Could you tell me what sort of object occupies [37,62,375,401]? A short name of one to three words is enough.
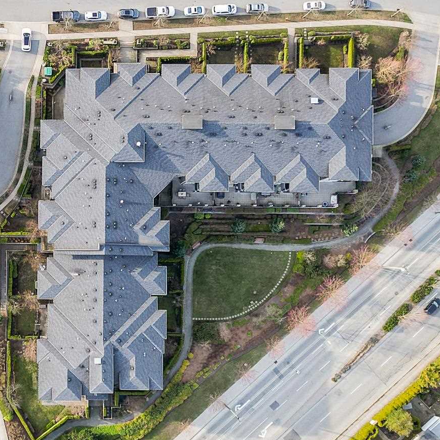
building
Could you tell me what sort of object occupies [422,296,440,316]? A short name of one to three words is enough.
car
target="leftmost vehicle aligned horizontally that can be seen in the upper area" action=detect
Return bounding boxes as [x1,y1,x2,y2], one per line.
[51,10,80,23]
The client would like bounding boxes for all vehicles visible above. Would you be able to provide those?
[51,10,80,23]
[145,5,175,18]
[302,0,325,11]
[246,1,269,13]
[84,10,107,21]
[118,7,139,19]
[183,5,205,17]
[348,0,371,10]
[212,5,237,15]
[422,296,440,316]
